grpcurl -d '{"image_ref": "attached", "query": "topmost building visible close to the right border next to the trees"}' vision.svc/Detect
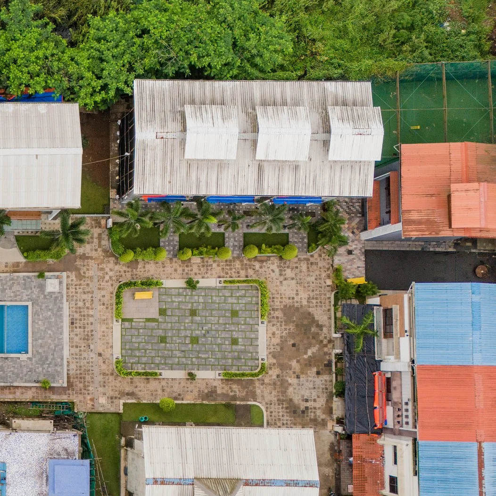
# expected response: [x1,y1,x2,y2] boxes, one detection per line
[349,142,496,243]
